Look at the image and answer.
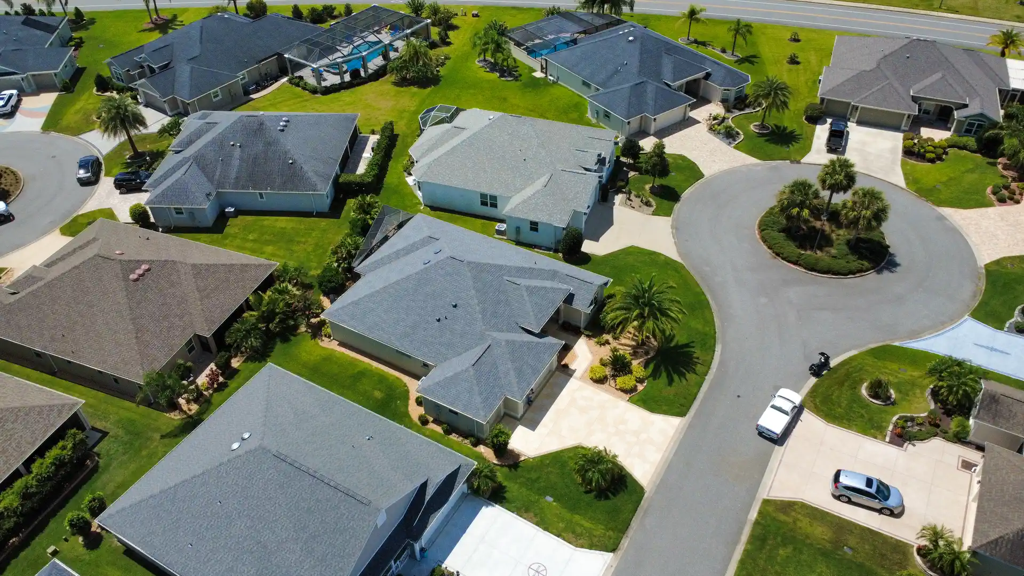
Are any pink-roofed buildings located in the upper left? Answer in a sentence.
No, looking in the upper left, there is no pink-roofed building.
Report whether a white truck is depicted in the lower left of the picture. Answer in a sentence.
No, the scene shows no white truck in the lower left of the picture.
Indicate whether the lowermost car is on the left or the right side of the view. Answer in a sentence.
You can find the lowermost car on the right side of the picture.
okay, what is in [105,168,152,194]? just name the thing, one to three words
car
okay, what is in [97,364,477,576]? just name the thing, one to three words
house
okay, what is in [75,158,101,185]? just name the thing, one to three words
car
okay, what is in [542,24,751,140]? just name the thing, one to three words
house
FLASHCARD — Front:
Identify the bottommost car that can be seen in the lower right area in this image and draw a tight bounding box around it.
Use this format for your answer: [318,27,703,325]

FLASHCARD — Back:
[831,464,904,514]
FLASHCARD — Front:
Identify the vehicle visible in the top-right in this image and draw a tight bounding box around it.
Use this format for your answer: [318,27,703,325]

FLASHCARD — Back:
[825,119,850,149]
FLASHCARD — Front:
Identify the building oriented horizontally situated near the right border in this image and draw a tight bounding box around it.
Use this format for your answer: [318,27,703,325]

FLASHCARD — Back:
[818,35,1024,142]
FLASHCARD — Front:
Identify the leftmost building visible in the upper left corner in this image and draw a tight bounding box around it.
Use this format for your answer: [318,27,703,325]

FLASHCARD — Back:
[0,14,87,96]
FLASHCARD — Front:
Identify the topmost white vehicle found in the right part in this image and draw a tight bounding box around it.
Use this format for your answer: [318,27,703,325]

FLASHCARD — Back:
[756,385,806,447]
